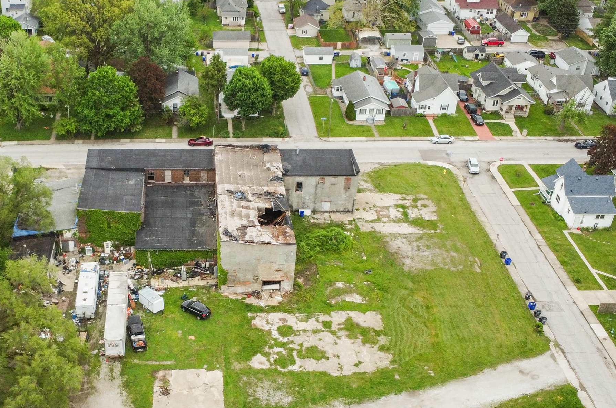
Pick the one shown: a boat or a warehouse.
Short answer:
warehouse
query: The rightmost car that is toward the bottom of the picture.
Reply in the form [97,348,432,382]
[180,299,214,322]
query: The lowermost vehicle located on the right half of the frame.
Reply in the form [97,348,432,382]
[464,158,482,174]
